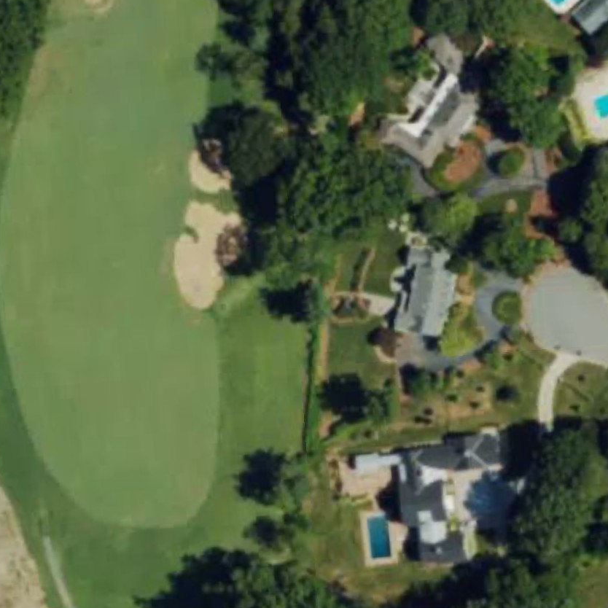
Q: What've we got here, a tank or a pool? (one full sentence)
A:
This aerial view contains a pool.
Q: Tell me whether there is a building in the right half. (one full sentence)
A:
Yes, the scene does show a building in the right half.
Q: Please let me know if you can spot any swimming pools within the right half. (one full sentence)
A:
Yes, you'll find a swimming pool within the right half.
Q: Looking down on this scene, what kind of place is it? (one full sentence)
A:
It's a golf course.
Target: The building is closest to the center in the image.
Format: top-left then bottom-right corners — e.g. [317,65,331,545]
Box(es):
[395,244,453,339]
